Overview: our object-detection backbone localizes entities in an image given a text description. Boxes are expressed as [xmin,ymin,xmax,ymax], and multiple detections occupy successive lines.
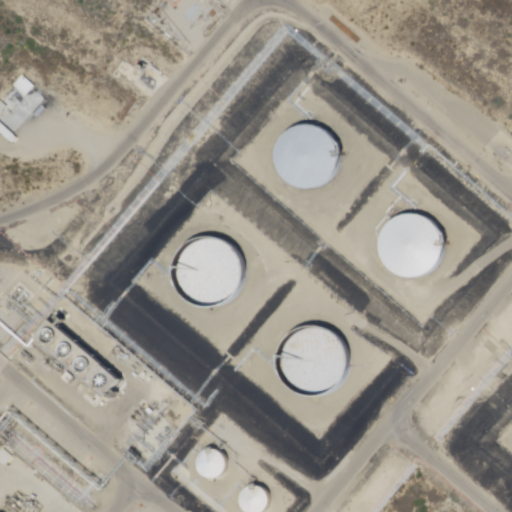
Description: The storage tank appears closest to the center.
[170,235,246,308]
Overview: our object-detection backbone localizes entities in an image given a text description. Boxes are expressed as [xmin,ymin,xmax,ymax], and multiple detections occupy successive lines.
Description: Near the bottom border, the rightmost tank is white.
[238,484,272,512]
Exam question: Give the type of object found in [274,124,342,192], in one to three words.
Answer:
storage tank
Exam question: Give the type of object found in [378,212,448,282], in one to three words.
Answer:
storage tank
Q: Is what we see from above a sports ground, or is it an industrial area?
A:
industrial area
